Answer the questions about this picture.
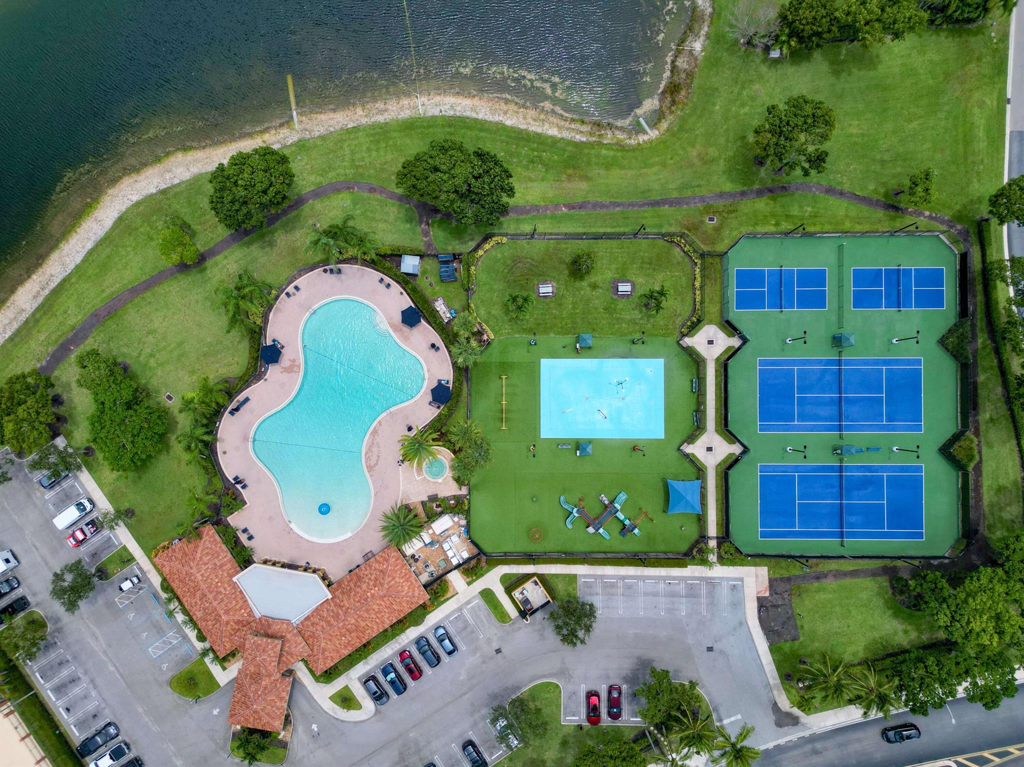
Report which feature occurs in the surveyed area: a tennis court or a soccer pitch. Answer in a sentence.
It is a tennis court that can be seen here.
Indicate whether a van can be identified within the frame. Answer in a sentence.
Yes, a van is visible in the scene.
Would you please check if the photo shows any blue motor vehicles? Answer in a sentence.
Yes, I can see a blue motor vehicle in this picture.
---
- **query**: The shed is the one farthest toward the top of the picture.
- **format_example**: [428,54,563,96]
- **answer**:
[398,254,418,273]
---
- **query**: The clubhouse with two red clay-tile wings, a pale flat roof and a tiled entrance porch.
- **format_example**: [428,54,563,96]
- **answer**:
[153,522,429,733]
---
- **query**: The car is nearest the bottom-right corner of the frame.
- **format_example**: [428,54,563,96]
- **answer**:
[882,723,920,744]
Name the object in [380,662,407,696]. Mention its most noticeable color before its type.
blue car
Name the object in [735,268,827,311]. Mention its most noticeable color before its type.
blue sports court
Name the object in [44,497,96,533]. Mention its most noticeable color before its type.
white van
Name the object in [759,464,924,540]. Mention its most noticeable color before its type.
blue tennis court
